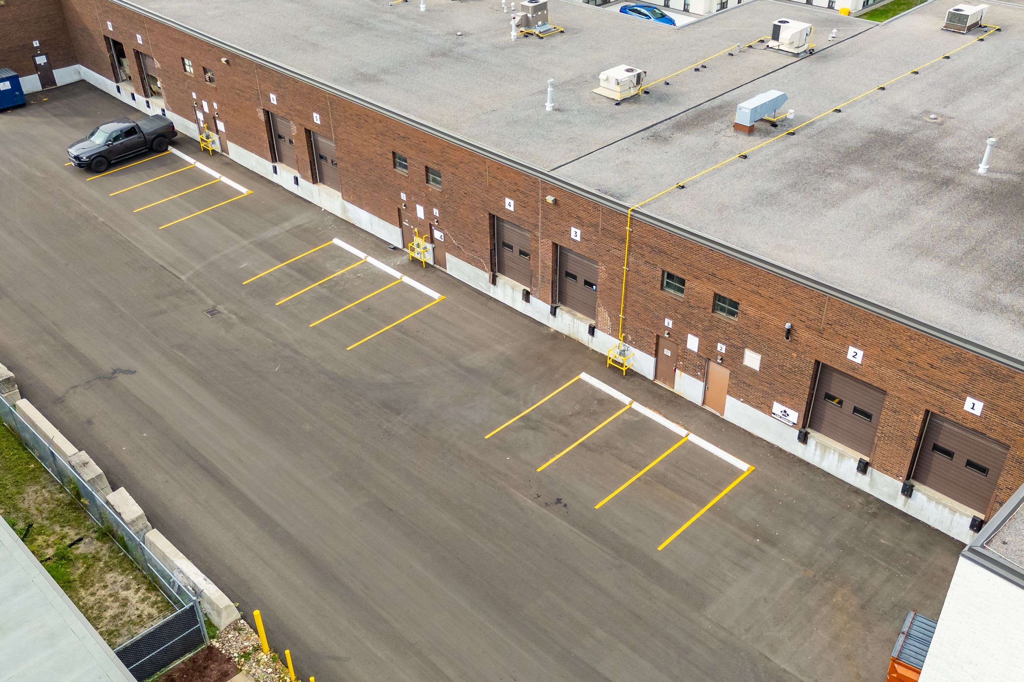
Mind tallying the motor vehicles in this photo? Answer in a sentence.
I count 2 motor vehicles.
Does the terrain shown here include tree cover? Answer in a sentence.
No, there is no tree cover in the image.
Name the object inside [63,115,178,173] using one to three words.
truck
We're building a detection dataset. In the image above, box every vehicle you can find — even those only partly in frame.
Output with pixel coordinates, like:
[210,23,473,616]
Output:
[613,3,673,24]
[63,115,178,173]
